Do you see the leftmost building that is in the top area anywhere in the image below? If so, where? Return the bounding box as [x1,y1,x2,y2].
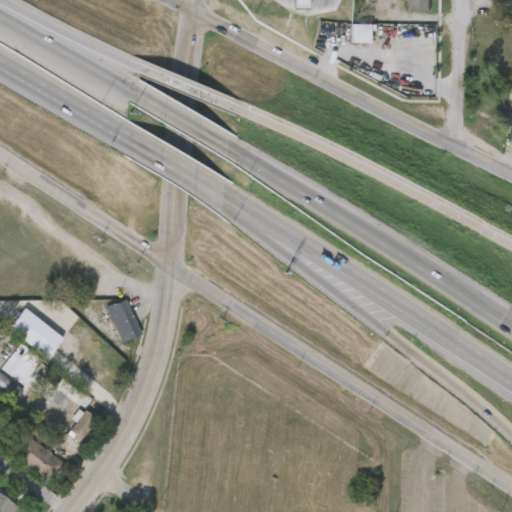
[352,24,372,44]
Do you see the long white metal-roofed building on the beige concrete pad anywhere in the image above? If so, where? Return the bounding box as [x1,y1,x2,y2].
[13,309,66,358]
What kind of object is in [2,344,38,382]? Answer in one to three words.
house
